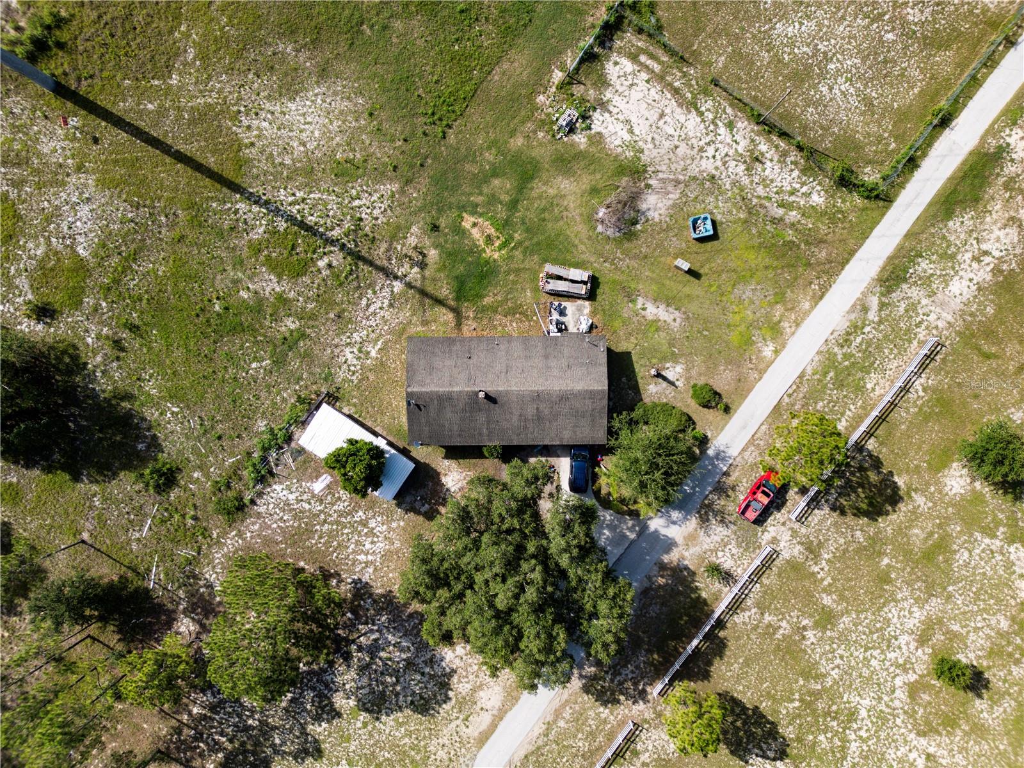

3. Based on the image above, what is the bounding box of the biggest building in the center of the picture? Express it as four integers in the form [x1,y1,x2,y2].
[404,332,609,448]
